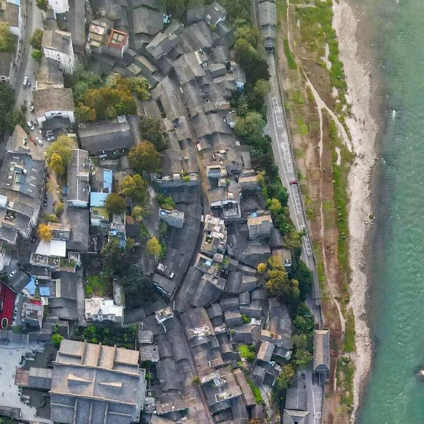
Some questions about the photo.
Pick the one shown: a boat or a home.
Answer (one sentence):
This aerial view contains a home.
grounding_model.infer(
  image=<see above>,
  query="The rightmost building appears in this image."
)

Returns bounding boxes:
[312,330,330,372]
